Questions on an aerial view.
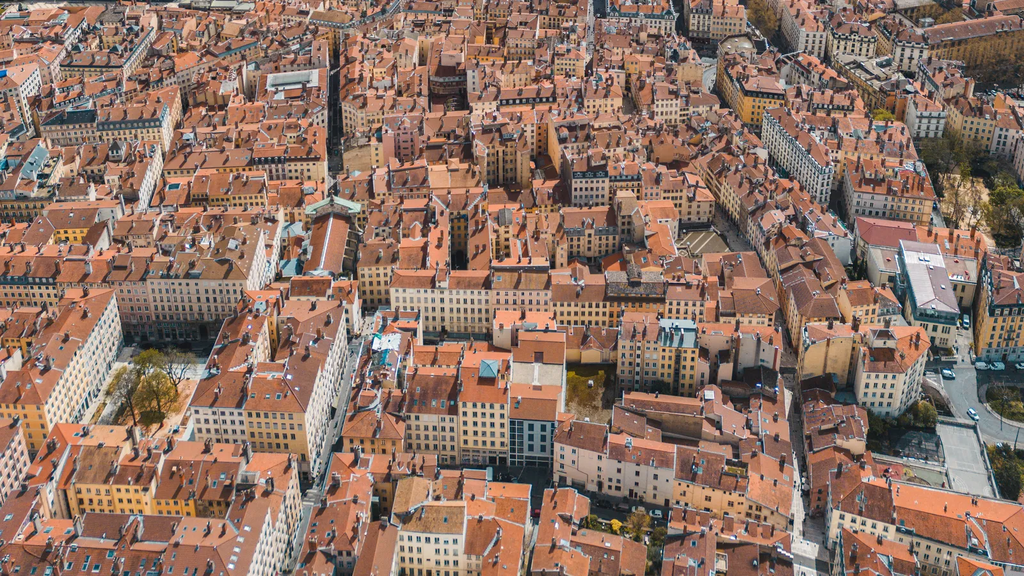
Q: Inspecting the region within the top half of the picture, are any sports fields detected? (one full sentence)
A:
No, no sports field can be made out within the top half of the picture.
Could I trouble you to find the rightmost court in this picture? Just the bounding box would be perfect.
[938,419,996,492]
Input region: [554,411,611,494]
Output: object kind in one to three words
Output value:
house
